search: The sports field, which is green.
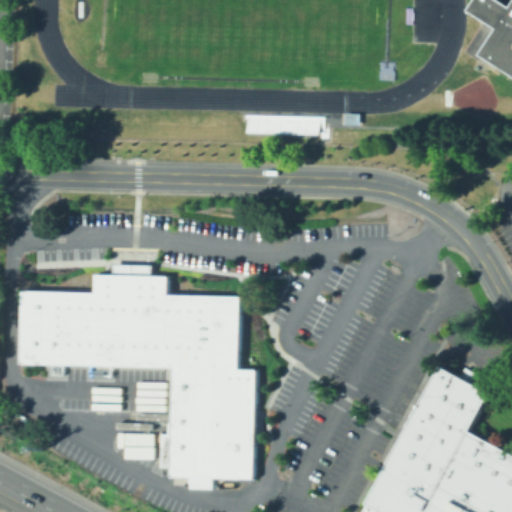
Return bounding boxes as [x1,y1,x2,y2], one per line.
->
[59,0,436,90]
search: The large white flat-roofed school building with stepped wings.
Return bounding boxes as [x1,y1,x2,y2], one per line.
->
[17,265,258,492]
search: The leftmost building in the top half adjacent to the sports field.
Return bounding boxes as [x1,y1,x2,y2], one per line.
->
[246,114,330,140]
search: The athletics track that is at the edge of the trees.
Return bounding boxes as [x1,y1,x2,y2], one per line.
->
[36,0,467,114]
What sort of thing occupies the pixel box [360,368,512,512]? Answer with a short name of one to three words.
building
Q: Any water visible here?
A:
No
